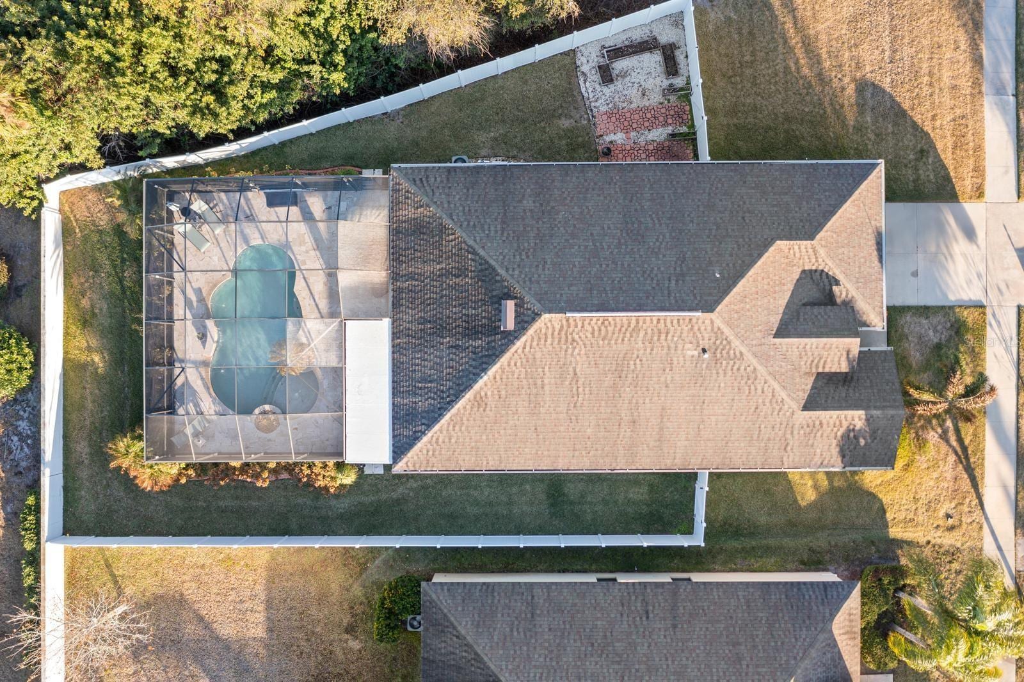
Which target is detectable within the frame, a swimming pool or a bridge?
swimming pool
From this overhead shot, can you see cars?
No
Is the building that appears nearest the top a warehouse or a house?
house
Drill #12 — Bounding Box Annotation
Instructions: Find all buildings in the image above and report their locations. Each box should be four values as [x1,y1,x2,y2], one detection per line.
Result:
[420,573,863,682]
[387,157,908,476]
